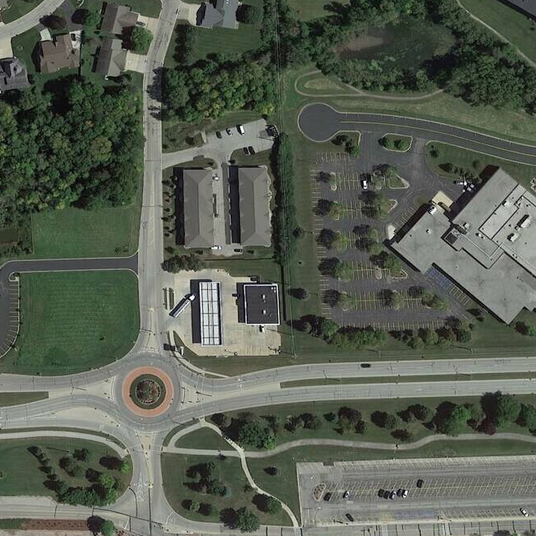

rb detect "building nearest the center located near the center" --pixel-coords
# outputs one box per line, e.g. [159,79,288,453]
[244,284,280,324]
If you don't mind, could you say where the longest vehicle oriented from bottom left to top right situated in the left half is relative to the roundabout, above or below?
above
